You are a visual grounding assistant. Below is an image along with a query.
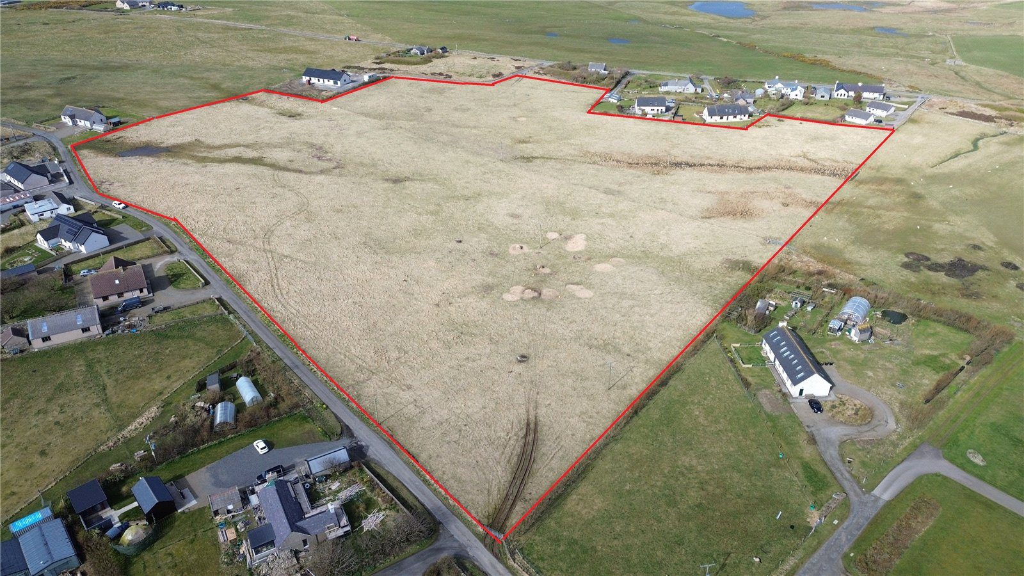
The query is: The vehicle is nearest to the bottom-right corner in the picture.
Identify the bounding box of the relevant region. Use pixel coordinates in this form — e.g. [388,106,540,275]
[809,395,823,412]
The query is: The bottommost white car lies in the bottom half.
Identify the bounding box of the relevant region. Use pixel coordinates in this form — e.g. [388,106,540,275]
[251,435,269,454]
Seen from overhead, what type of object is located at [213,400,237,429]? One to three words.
greenhouse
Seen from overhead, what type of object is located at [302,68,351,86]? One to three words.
house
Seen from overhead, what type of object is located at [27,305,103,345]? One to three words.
shed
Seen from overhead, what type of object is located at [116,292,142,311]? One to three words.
vehicle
